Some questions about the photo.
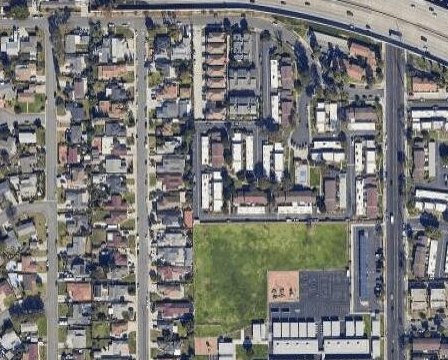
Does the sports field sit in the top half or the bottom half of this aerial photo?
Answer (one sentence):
The sports field sits in the bottom half of the picture.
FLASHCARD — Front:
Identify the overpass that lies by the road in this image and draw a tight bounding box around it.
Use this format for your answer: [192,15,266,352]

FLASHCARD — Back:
[380,0,409,51]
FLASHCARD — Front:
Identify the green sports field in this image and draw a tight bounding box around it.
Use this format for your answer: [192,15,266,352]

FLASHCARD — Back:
[194,223,349,338]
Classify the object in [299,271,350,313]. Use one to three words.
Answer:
sports court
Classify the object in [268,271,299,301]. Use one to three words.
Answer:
playground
